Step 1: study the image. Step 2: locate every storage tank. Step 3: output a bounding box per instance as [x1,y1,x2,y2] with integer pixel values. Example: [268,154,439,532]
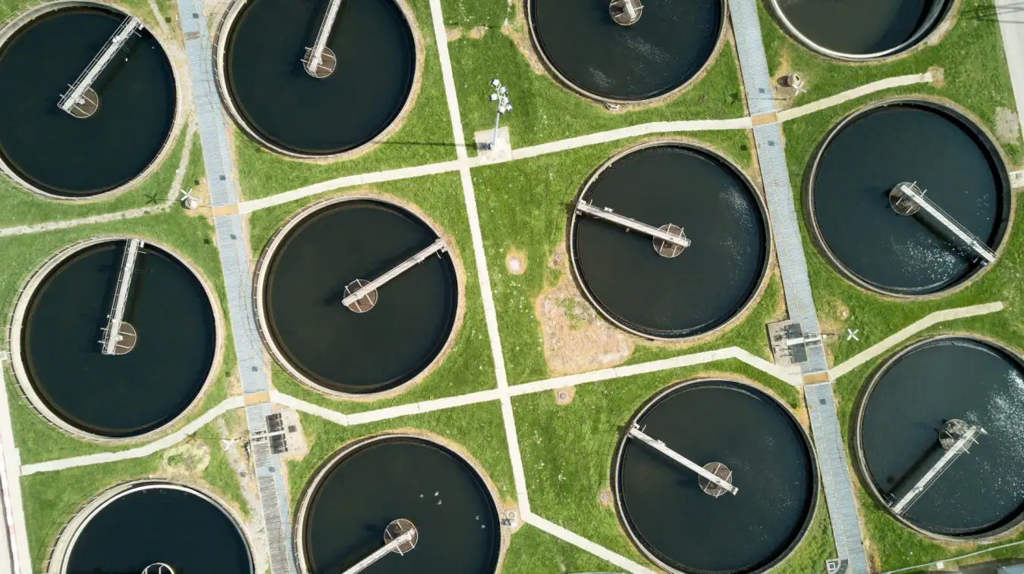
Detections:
[771,0,955,60]
[860,337,1024,541]
[0,0,182,201]
[810,96,1013,297]
[254,193,461,398]
[616,379,822,574]
[46,477,260,574]
[528,0,729,105]
[295,435,503,574]
[214,0,420,160]
[570,138,774,341]
[6,235,220,443]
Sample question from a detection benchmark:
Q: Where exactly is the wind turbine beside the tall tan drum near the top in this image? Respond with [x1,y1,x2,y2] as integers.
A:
[788,78,812,98]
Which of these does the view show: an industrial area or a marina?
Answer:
industrial area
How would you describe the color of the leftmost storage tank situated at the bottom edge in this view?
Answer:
black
